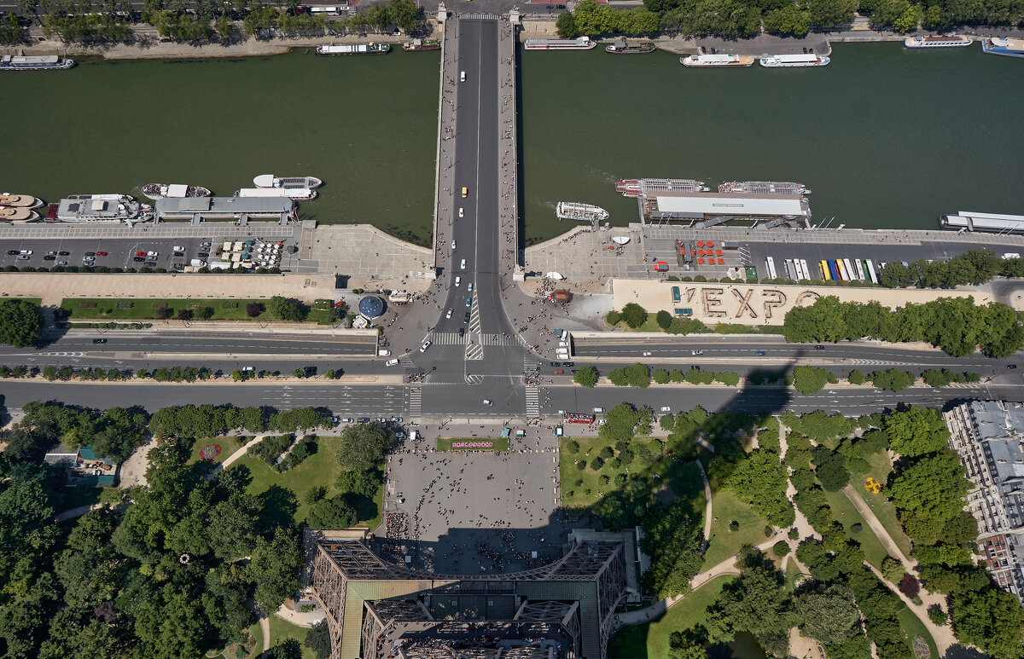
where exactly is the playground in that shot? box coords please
[787,627,825,659]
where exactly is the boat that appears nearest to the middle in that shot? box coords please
[556,202,610,222]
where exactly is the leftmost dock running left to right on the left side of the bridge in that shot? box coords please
[147,200,294,229]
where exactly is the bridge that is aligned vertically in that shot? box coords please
[433,19,523,272]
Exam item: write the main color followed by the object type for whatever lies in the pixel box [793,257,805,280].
white vehicle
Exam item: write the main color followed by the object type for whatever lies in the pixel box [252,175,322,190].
white boat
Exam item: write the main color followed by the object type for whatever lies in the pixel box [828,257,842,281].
blue vehicle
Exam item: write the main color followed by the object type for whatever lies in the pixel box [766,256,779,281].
white vehicle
